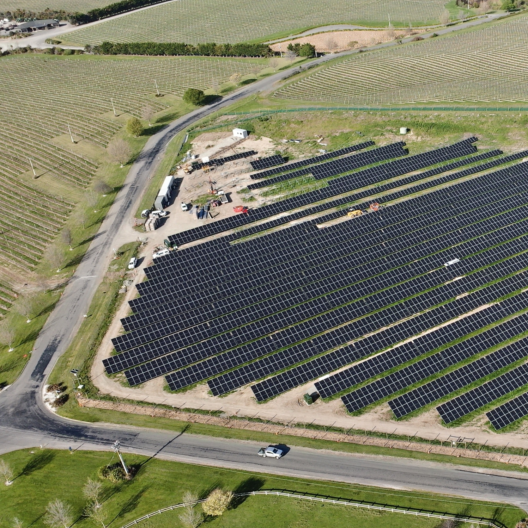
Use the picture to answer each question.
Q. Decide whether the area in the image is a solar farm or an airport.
solar farm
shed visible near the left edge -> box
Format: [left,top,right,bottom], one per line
[7,17,66,32]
